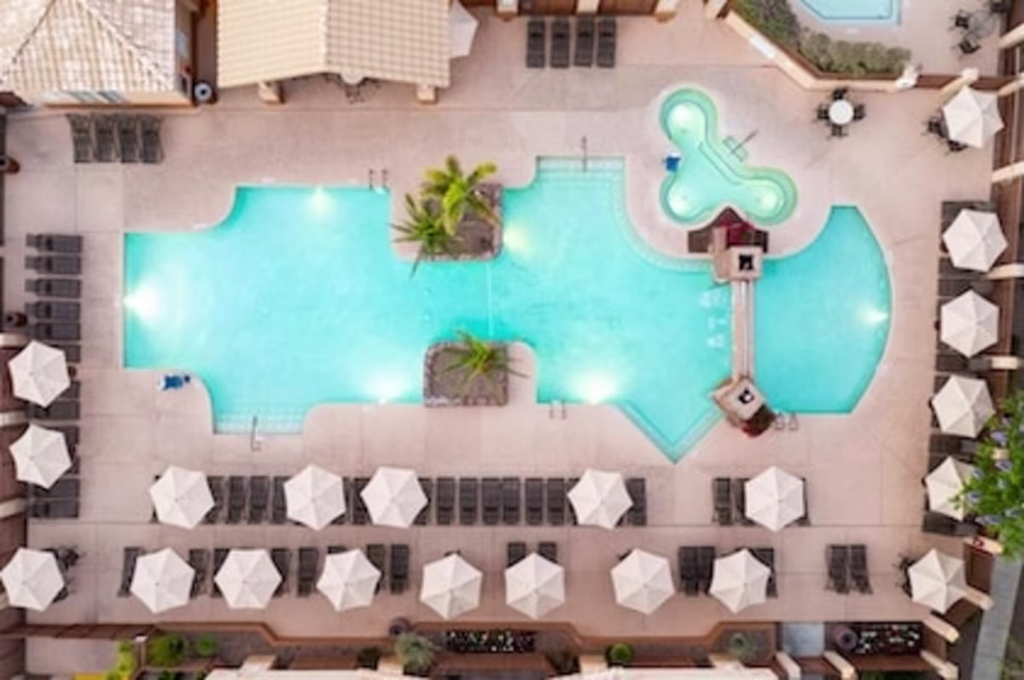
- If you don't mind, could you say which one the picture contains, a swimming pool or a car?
swimming pool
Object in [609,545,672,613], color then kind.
white umbrella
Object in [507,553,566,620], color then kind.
white umbrella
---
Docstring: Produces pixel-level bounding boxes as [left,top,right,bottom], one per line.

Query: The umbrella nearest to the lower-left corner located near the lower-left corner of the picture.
[1,544,75,609]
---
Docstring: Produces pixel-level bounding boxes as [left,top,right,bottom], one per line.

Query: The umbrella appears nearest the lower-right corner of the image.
[898,545,967,613]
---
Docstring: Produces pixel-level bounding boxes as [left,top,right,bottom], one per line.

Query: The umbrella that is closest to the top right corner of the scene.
[931,84,1002,149]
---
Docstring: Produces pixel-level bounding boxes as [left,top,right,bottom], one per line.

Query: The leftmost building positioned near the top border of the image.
[0,0,194,105]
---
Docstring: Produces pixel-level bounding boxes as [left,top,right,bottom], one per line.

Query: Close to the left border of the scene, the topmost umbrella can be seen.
[9,339,82,406]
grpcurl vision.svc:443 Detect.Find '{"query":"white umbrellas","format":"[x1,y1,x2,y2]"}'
[507,553,566,620]
[285,461,347,529]
[931,84,1002,149]
[149,467,216,531]
[131,544,196,611]
[921,375,992,438]
[10,426,84,490]
[9,339,82,406]
[707,546,771,613]
[1,544,75,609]
[928,290,998,358]
[932,208,1005,271]
[911,452,979,520]
[317,547,382,611]
[609,545,672,613]
[215,548,283,607]
[565,469,632,532]
[362,466,429,529]
[746,462,804,530]
[898,545,967,613]
[422,551,483,620]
